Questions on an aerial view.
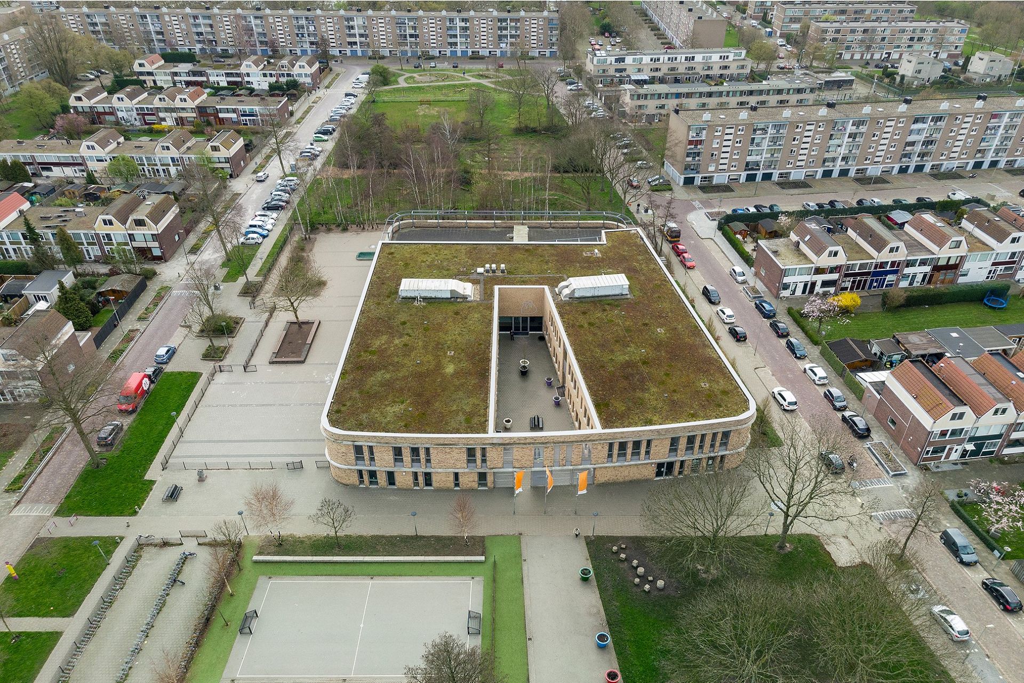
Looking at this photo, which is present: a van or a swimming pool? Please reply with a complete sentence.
It is a van that can be seen here.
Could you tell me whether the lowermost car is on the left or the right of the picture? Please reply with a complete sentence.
It is on the right.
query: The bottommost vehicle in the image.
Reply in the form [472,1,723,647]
[926,601,976,649]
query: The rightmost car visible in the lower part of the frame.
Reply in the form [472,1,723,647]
[978,575,1024,619]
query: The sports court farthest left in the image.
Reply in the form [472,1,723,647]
[220,578,484,683]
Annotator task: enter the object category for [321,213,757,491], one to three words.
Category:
building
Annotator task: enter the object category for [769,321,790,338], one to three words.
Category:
car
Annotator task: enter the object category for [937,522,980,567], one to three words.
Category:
van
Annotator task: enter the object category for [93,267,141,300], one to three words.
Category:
shed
